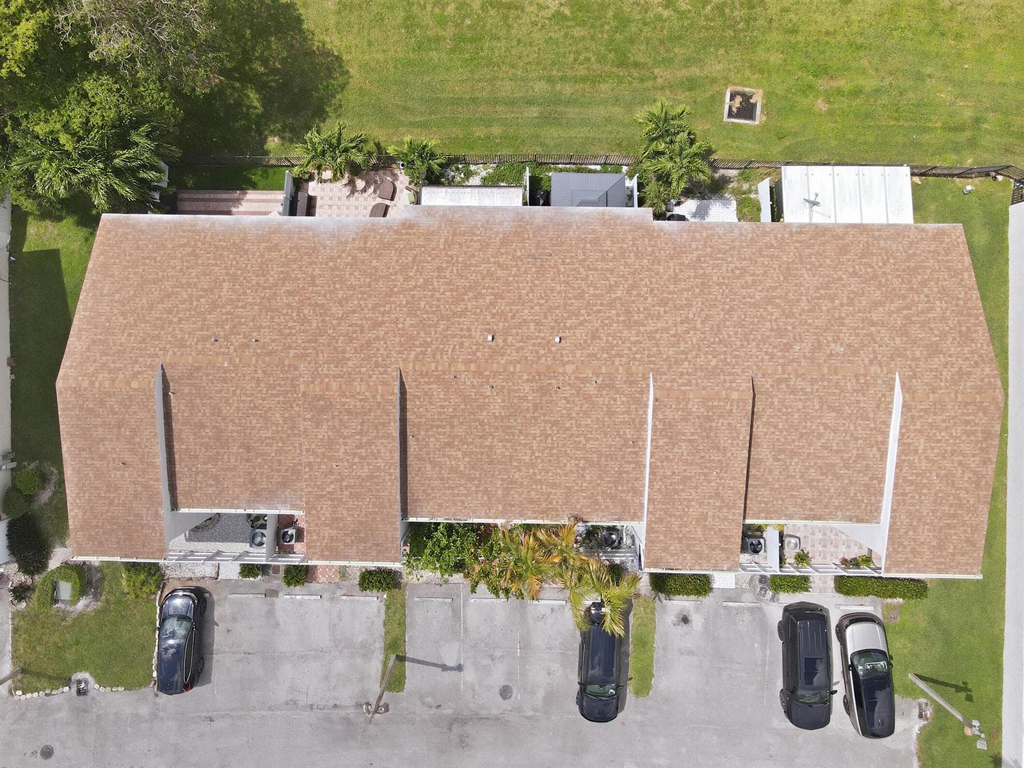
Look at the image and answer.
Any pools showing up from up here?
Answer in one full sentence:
No, there is no pool in the image.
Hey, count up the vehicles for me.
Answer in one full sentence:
My tally gives 4 vehicles in this view.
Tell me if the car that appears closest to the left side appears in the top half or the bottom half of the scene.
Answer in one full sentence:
The car that appears closest to the left side is in the bottom half of the image.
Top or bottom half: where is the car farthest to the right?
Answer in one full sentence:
The car farthest to the right sits in the bottom half of the picture.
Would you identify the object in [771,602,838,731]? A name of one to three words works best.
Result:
car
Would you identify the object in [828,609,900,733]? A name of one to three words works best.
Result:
car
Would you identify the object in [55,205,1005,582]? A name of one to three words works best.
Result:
house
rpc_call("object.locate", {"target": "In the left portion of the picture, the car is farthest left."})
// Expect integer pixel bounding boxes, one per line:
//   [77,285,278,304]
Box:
[150,584,209,693]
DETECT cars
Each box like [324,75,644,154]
[771,602,838,731]
[150,584,209,693]
[828,609,900,733]
[573,602,627,722]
